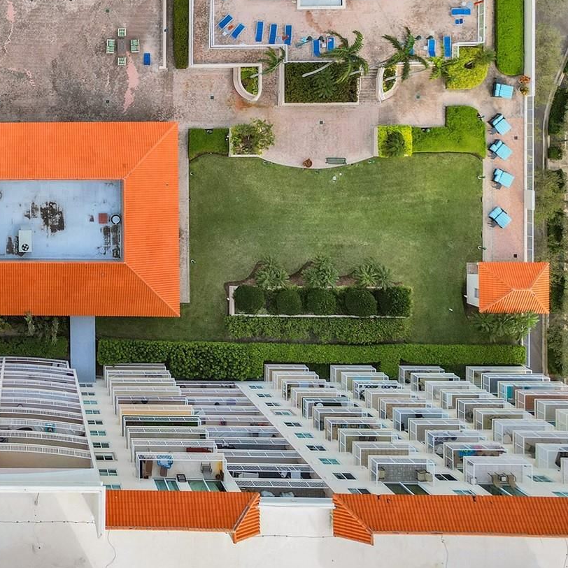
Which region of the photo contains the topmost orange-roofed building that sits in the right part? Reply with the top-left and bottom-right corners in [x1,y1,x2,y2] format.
[459,261,551,315]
